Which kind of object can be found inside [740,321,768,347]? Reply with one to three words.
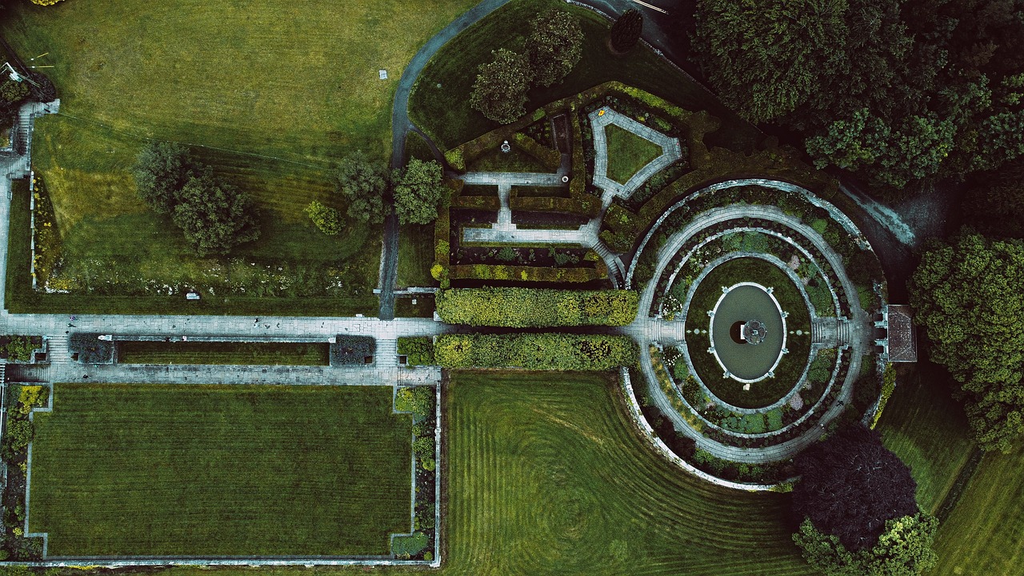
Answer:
fountain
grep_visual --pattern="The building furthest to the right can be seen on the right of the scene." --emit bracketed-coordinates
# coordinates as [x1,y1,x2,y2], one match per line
[866,305,917,362]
